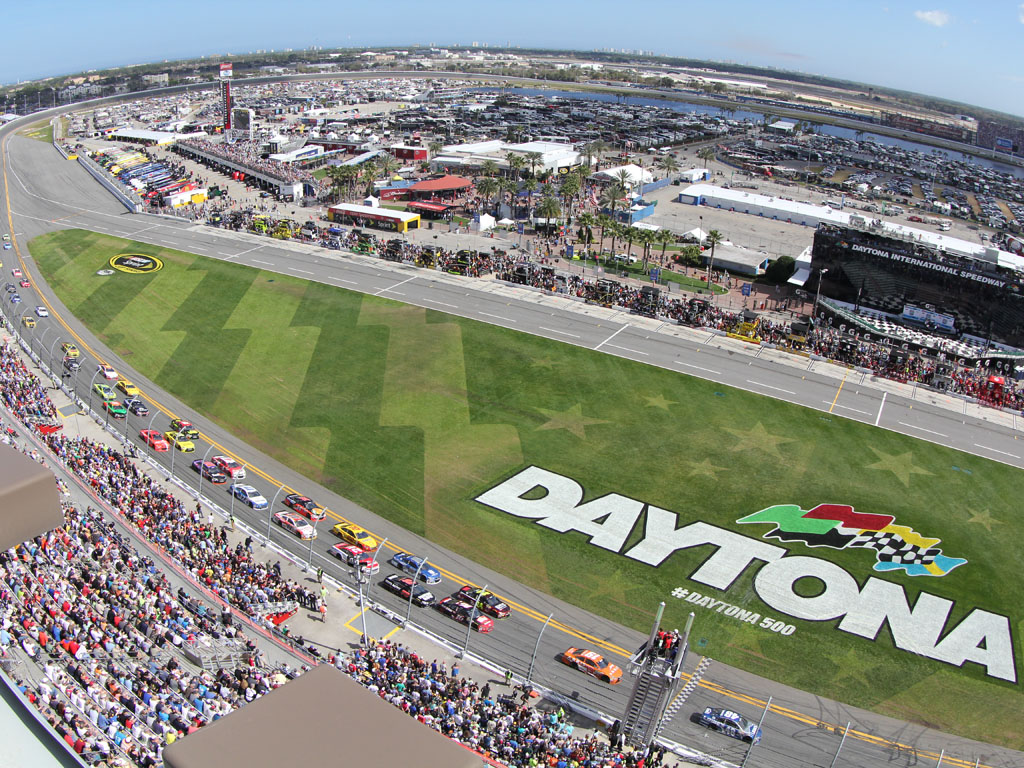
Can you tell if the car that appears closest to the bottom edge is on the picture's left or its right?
right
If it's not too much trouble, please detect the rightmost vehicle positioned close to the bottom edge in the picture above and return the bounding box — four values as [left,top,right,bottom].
[692,702,758,744]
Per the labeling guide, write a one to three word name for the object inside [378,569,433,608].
car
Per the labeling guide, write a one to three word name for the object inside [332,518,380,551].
car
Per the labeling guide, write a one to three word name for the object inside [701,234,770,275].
building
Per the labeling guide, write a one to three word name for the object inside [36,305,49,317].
vehicle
